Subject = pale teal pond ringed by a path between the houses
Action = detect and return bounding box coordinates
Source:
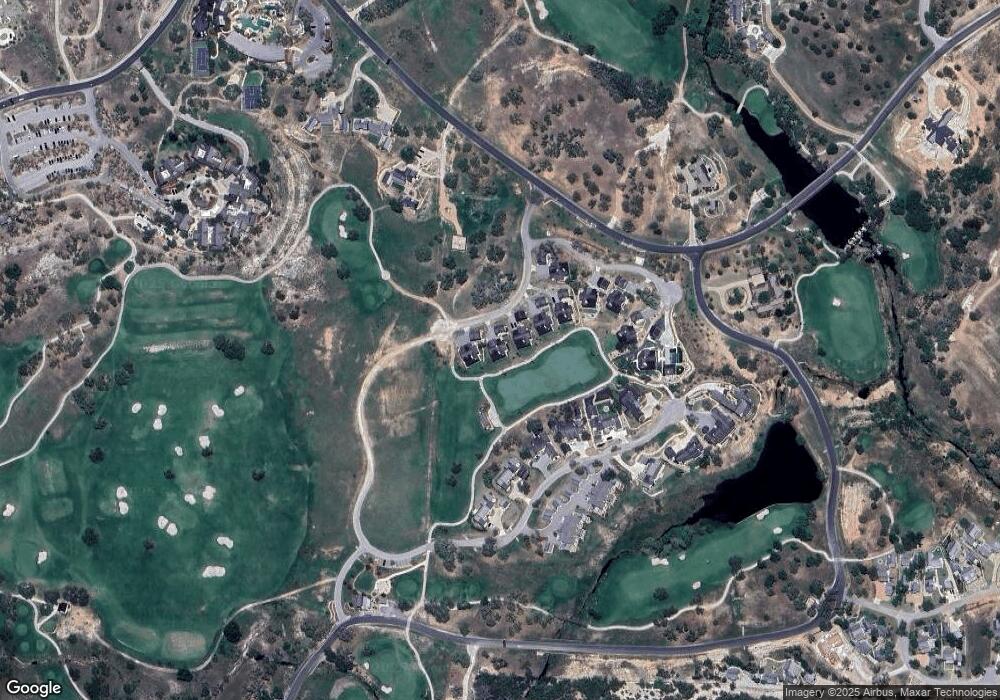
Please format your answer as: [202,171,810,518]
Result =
[498,347,598,412]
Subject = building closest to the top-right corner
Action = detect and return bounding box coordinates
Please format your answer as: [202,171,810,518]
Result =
[925,106,958,150]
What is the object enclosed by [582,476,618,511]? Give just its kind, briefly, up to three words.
building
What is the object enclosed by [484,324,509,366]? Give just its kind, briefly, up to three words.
house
